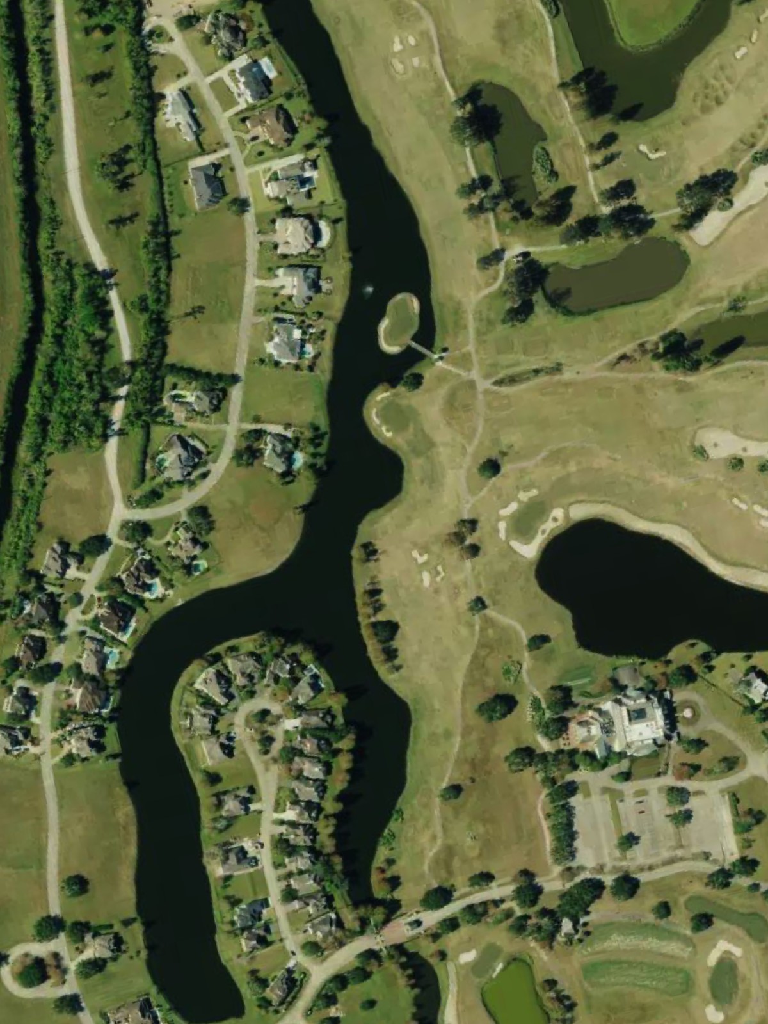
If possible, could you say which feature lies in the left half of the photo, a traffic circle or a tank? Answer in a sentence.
Looking in the left half of the photo, you will find a traffic circle.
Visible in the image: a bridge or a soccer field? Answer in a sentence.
Visible in the photo is a bridge.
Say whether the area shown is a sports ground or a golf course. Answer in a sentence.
This image shows a golf course.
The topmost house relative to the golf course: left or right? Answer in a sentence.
The golf course has the topmost house on its left side.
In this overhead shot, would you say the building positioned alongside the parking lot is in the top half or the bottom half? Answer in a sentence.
The building positioned alongside the parking lot sits in the bottom half of the picture.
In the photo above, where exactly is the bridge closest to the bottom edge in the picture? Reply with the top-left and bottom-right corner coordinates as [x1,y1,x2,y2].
[362,912,432,949]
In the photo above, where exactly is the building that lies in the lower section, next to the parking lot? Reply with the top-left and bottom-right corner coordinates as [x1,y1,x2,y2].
[576,683,672,760]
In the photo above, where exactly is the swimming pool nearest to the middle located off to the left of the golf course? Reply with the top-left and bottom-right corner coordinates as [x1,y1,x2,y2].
[291,451,303,470]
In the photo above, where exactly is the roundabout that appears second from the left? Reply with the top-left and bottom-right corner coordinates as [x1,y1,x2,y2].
[235,695,286,765]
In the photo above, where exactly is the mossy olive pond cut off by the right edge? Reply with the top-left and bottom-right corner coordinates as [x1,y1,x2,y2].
[695,310,768,351]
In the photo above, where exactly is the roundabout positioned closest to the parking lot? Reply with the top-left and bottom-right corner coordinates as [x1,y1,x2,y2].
[667,690,710,734]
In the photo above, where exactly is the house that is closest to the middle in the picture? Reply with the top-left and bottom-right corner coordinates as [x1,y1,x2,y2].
[260,430,298,470]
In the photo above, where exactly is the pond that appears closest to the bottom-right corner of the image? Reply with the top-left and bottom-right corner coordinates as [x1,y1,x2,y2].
[481,957,549,1024]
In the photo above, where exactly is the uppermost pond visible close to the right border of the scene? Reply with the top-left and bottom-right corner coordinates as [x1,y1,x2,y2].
[558,0,732,122]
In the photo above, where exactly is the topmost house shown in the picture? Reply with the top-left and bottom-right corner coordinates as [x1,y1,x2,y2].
[206,13,248,57]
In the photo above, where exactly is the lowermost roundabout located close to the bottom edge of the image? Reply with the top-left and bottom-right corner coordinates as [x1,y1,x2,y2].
[1,940,73,998]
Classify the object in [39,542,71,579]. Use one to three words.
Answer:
house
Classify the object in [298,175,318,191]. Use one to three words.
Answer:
swimming pool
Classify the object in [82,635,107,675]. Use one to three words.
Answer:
house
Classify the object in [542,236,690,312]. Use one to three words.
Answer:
pond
